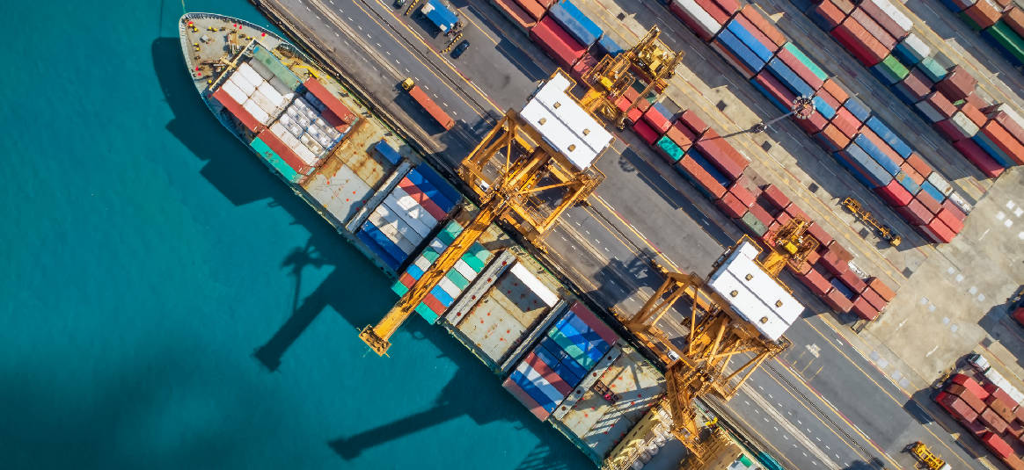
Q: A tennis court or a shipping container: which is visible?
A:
shipping container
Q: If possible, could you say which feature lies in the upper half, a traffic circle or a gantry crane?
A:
gantry crane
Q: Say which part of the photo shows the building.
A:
top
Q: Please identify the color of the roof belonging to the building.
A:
blue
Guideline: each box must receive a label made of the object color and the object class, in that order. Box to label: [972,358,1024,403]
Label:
white shipping container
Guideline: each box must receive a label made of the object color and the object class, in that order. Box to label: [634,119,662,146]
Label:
red shipping container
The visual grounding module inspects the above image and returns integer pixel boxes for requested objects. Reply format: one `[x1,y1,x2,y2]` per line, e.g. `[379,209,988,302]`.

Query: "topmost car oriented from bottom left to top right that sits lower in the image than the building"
[451,41,468,59]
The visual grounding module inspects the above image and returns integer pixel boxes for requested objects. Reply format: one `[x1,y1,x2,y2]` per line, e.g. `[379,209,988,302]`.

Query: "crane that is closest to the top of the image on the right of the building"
[614,18,683,129]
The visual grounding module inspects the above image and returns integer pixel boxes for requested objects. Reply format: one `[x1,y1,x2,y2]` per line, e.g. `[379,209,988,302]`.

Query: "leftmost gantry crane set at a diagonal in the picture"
[365,58,629,353]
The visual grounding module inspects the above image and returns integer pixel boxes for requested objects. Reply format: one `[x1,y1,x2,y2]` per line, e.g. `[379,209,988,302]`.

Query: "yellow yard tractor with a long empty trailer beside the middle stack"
[842,195,902,247]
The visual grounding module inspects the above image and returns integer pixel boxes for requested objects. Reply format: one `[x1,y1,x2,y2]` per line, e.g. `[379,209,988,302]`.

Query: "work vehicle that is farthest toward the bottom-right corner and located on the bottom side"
[906,435,955,470]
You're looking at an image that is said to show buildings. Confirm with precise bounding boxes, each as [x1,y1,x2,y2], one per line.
[419,0,459,35]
